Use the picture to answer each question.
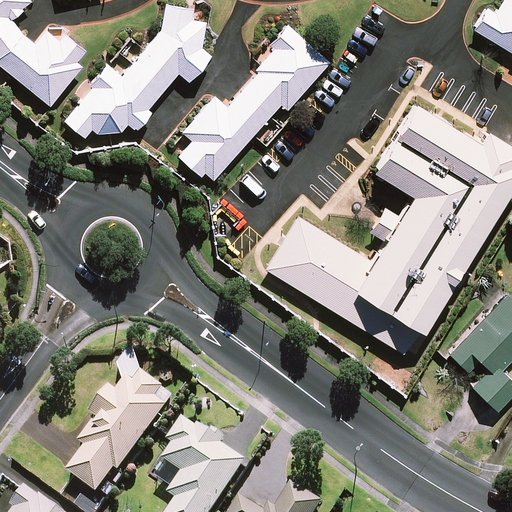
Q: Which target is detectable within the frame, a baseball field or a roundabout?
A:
roundabout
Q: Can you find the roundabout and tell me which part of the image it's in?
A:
left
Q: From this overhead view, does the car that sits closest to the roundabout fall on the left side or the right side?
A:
left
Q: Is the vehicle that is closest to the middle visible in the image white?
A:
Yes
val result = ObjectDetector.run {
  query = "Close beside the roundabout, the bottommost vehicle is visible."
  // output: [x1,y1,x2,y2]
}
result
[73,264,96,284]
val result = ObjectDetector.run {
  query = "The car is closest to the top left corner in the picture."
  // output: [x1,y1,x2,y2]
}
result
[26,209,48,230]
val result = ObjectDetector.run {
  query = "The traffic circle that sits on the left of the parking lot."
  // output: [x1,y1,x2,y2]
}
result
[81,216,144,278]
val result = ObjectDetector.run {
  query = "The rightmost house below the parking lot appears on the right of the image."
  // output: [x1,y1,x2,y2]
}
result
[448,294,512,412]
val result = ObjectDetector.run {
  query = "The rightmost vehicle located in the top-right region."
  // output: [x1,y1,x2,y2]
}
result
[475,106,492,128]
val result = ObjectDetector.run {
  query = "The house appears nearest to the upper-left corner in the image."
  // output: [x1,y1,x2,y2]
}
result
[0,0,86,106]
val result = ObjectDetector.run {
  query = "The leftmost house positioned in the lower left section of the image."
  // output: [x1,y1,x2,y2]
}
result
[3,482,66,512]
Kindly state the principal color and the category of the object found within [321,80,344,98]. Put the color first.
white car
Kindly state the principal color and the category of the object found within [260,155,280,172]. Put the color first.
white car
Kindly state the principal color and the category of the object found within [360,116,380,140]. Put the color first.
black car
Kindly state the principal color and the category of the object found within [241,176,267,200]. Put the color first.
white vehicle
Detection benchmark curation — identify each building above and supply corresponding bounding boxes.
[64,4,212,138]
[66,368,166,490]
[226,480,322,512]
[358,104,512,337]
[71,492,99,512]
[471,0,512,57]
[448,294,512,412]
[3,482,66,512]
[159,414,246,512]
[178,24,326,181]
[0,0,86,106]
